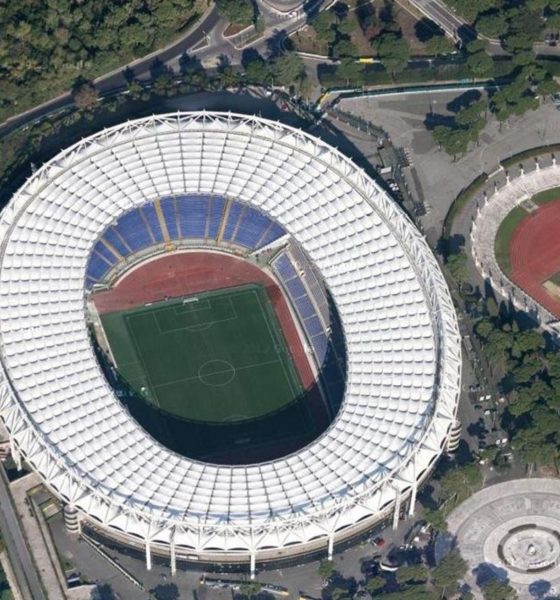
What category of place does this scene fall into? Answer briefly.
sports ground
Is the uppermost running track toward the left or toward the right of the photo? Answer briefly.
right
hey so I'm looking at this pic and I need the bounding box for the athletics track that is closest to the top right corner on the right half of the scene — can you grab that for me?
[508,200,560,317]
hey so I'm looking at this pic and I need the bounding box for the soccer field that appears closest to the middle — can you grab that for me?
[102,282,324,474]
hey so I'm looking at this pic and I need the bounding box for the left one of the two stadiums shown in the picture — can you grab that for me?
[0,106,465,580]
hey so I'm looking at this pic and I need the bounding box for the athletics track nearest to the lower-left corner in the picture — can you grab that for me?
[73,250,332,492]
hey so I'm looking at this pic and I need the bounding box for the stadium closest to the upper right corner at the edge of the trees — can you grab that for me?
[470,162,560,342]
